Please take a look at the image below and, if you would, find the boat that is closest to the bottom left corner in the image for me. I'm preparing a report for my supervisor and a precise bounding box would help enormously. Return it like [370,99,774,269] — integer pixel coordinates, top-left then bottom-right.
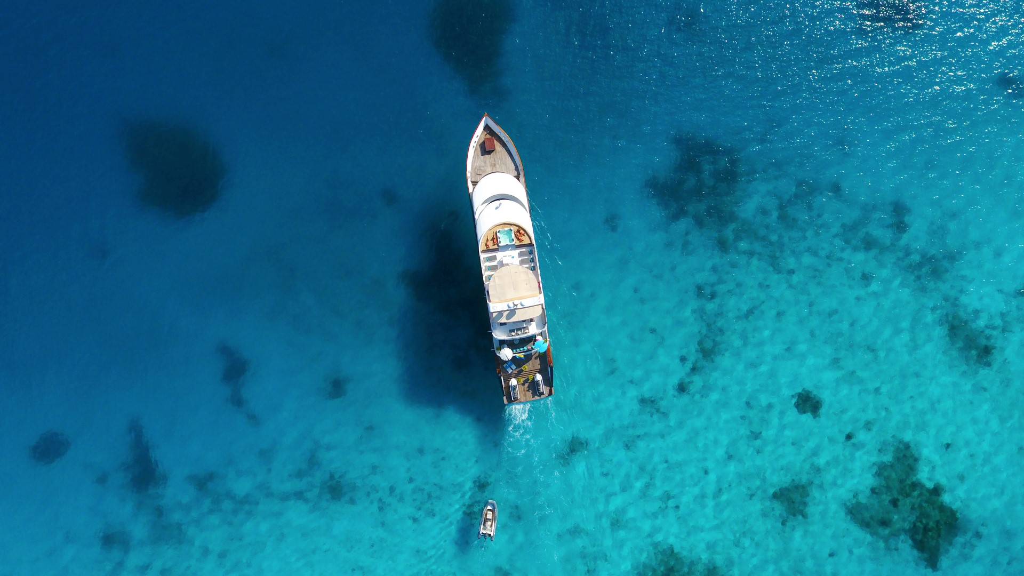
[478,500,498,541]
